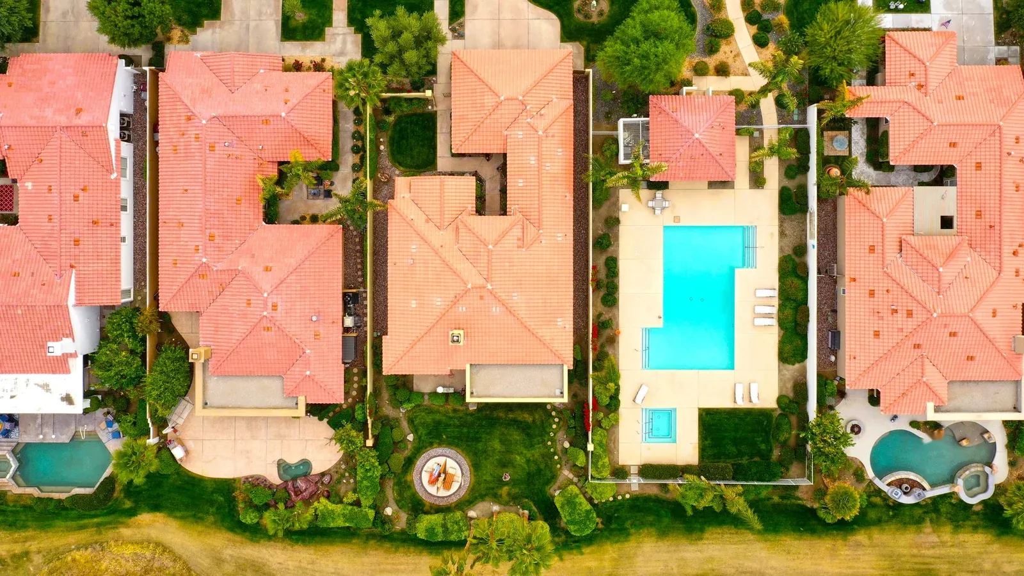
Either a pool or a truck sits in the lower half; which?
pool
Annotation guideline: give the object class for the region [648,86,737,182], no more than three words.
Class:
building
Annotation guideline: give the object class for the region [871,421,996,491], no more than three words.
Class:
swimming pool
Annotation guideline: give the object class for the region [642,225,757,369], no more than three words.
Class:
swimming pool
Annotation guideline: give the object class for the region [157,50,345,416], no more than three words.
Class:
house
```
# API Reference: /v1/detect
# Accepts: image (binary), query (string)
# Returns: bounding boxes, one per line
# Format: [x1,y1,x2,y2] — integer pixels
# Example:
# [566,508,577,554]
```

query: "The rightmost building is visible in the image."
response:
[837,31,1024,420]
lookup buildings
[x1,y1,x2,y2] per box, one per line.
[382,49,574,402]
[0,52,140,414]
[157,50,345,416]
[648,86,737,182]
[837,31,1024,420]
